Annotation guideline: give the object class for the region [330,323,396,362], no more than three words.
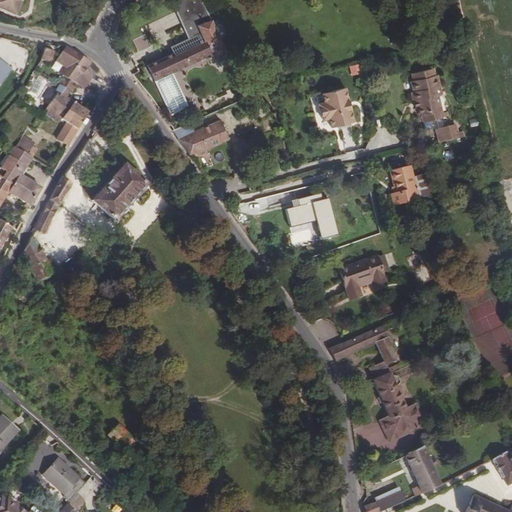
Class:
barn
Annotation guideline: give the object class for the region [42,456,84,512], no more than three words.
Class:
house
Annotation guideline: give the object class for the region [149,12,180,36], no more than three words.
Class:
building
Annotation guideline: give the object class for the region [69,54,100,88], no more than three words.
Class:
house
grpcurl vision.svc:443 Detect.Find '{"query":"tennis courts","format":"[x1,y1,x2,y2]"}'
[456,286,512,380]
